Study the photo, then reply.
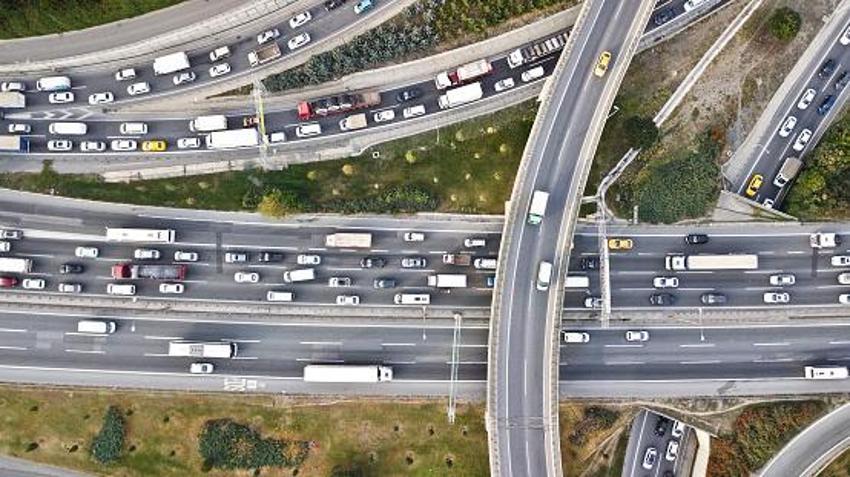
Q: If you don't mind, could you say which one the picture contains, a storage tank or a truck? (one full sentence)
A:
The one in the frame is a truck.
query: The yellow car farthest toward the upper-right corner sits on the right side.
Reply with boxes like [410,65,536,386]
[745,173,764,197]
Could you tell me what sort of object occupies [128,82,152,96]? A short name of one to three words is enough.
car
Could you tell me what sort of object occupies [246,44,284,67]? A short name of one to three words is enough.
truck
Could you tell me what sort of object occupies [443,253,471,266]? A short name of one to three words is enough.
vehicle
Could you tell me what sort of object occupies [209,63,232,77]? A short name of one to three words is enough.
car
